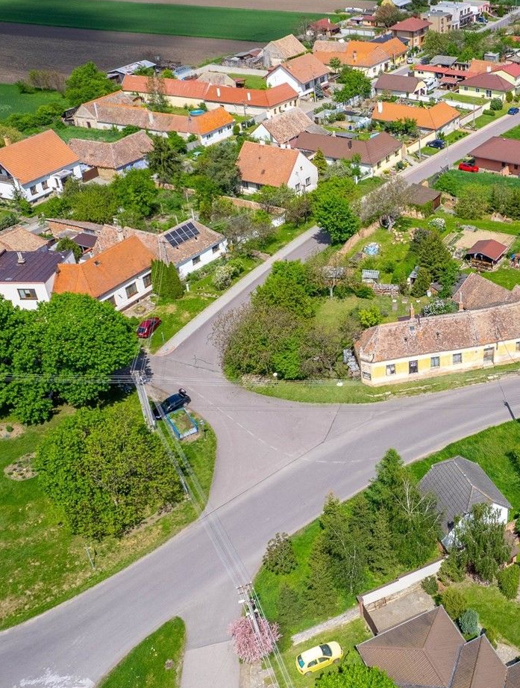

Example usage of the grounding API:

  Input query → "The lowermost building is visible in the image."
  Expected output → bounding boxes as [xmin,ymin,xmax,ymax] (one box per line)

[354,604,520,688]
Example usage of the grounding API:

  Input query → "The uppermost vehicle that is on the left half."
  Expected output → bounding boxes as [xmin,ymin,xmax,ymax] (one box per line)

[136,317,160,334]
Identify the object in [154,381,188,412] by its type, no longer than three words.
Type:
car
